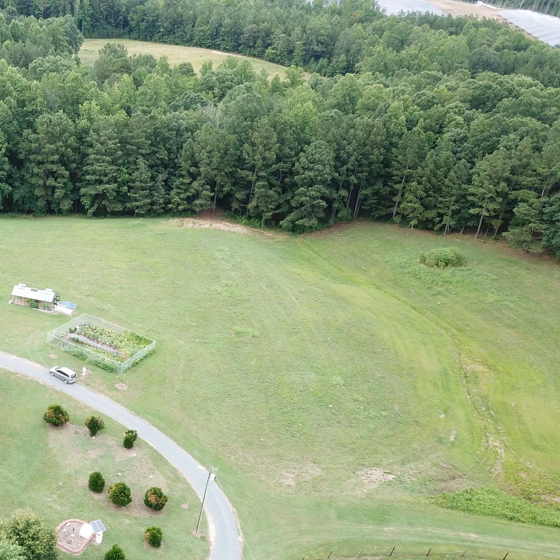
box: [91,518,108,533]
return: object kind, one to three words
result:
solar array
